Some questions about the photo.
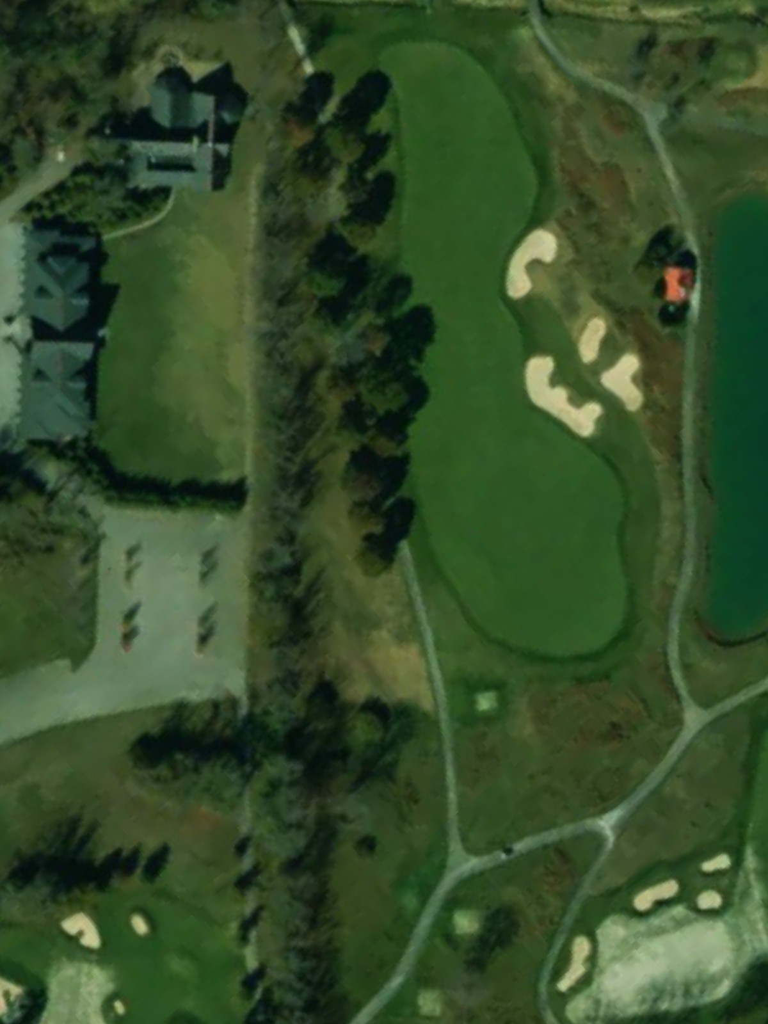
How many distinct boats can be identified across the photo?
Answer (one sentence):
I count no boats.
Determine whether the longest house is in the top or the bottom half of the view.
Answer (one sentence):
It is in the top half that the longest house appears.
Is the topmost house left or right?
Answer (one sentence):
The topmost house sits on the left side.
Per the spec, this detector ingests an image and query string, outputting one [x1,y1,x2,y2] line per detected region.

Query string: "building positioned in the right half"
[665,266,693,301]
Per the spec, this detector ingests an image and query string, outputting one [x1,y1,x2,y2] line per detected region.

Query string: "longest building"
[16,228,109,441]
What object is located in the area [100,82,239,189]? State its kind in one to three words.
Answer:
house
